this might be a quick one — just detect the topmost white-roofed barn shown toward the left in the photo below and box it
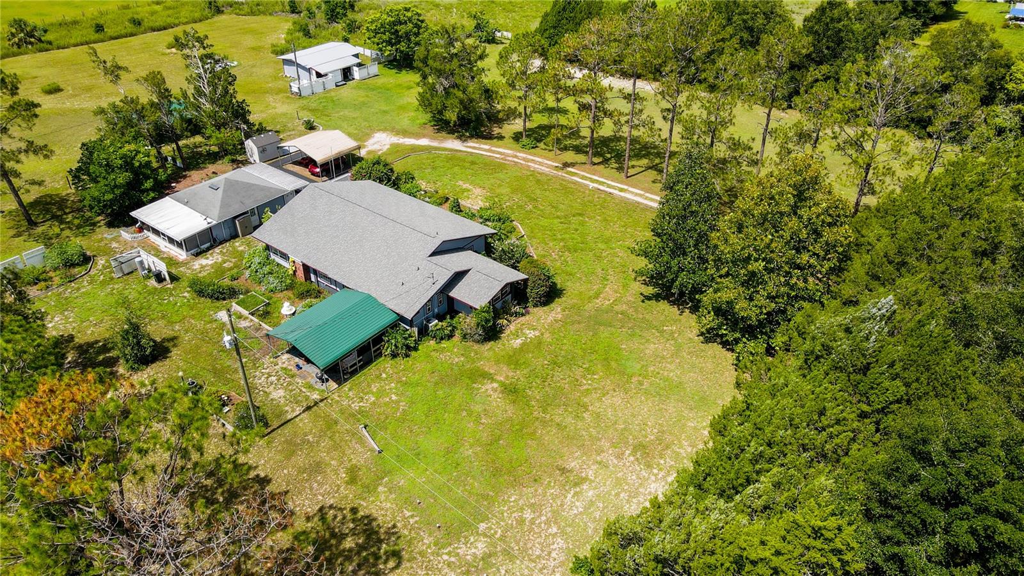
[275,42,363,83]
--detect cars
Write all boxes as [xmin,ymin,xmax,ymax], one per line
[309,157,346,176]
[298,153,315,165]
